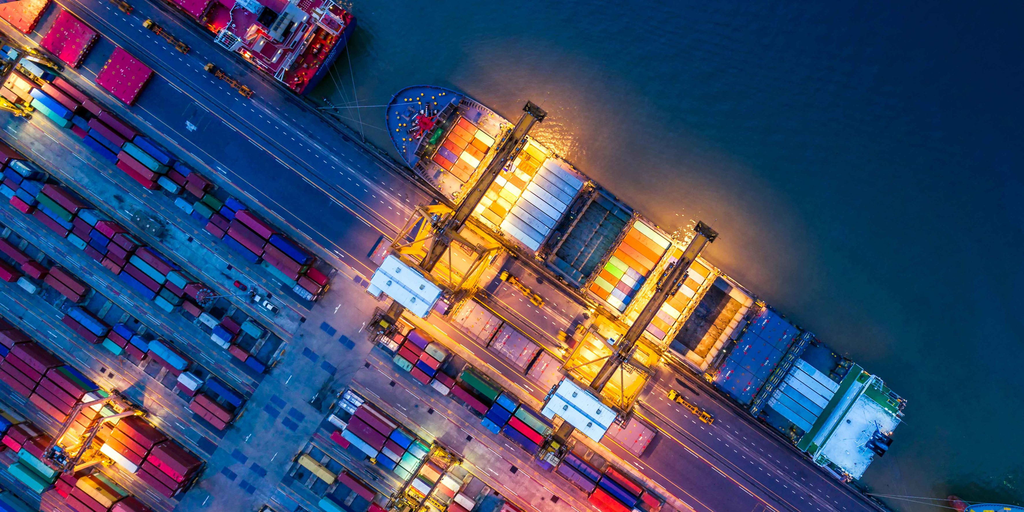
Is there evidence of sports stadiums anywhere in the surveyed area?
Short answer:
No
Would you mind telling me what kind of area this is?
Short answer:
port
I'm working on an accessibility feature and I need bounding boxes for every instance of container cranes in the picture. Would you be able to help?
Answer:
[43,390,149,479]
[530,222,725,472]
[389,438,460,512]
[0,36,68,123]
[360,100,552,351]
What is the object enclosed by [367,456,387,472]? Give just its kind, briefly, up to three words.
vehicle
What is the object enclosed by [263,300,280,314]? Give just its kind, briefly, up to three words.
vehicle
